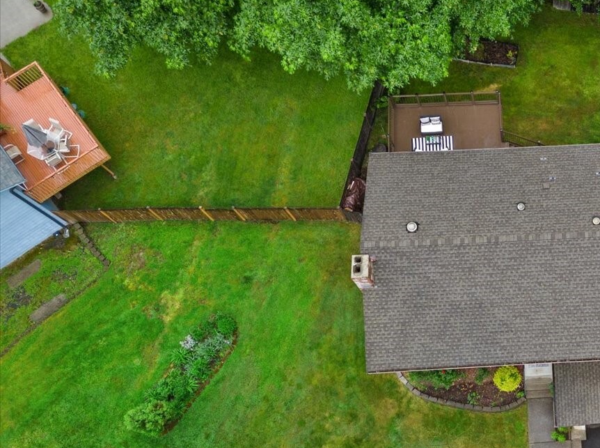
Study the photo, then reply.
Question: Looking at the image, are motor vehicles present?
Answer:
No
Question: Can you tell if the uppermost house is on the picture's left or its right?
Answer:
left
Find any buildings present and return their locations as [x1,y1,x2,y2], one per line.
[0,140,67,269]
[351,141,600,427]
